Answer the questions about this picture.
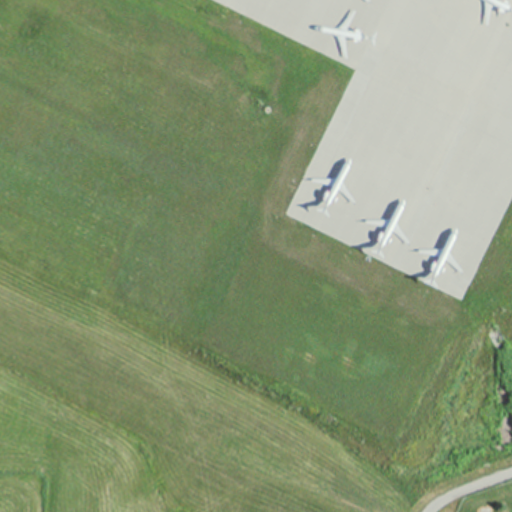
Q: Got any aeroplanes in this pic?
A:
Yes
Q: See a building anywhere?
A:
No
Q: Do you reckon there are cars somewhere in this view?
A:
No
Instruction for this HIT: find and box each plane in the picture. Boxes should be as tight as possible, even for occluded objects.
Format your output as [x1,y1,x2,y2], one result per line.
[418,230,463,288]
[366,200,410,258]
[314,10,375,58]
[486,0,512,25]
[312,159,356,216]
